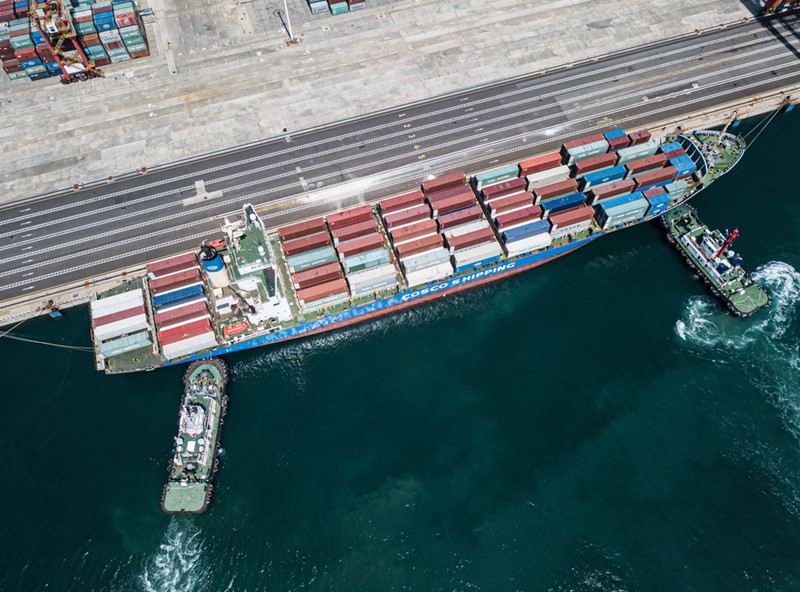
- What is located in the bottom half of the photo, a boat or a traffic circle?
boat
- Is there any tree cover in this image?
No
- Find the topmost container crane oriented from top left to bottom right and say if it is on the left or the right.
left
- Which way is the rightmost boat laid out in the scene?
at an angle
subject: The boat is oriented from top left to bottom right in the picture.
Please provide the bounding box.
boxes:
[663,202,774,320]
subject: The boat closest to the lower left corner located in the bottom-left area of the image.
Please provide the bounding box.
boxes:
[158,358,228,517]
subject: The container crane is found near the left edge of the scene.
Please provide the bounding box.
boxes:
[25,0,100,82]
